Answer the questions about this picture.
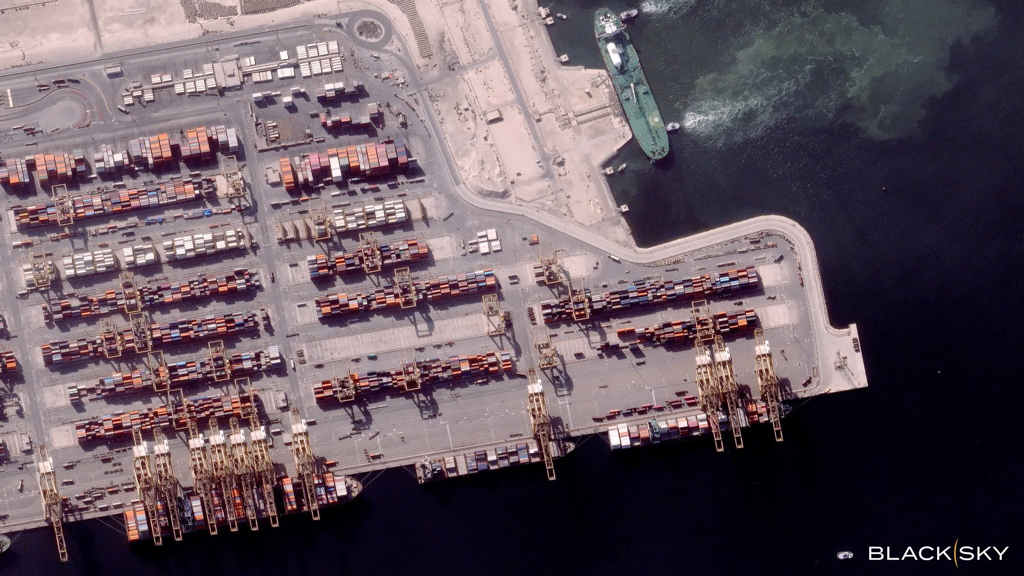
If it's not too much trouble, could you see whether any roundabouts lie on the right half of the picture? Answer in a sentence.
No, no roundabout is visible on the right half of the picture.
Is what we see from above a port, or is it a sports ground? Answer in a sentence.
What you see here is a port.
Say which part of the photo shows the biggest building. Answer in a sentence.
The biggest building is located in the top left region of the scene.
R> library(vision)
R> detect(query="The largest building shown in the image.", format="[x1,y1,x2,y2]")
[213,61,241,89]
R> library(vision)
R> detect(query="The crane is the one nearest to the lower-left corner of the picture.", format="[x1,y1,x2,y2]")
[39,444,68,562]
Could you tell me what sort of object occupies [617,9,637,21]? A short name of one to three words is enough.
boat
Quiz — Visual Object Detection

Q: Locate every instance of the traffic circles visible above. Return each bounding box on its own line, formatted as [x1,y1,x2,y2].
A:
[347,10,393,50]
